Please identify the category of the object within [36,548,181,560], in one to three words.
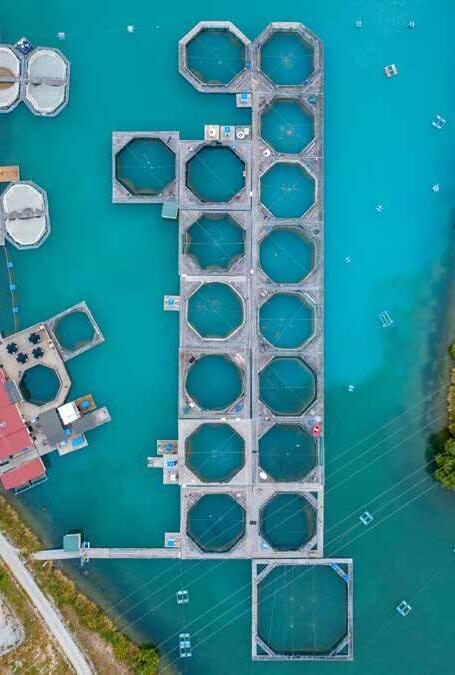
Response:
pier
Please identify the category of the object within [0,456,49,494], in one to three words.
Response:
shed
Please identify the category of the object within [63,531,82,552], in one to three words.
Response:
shed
